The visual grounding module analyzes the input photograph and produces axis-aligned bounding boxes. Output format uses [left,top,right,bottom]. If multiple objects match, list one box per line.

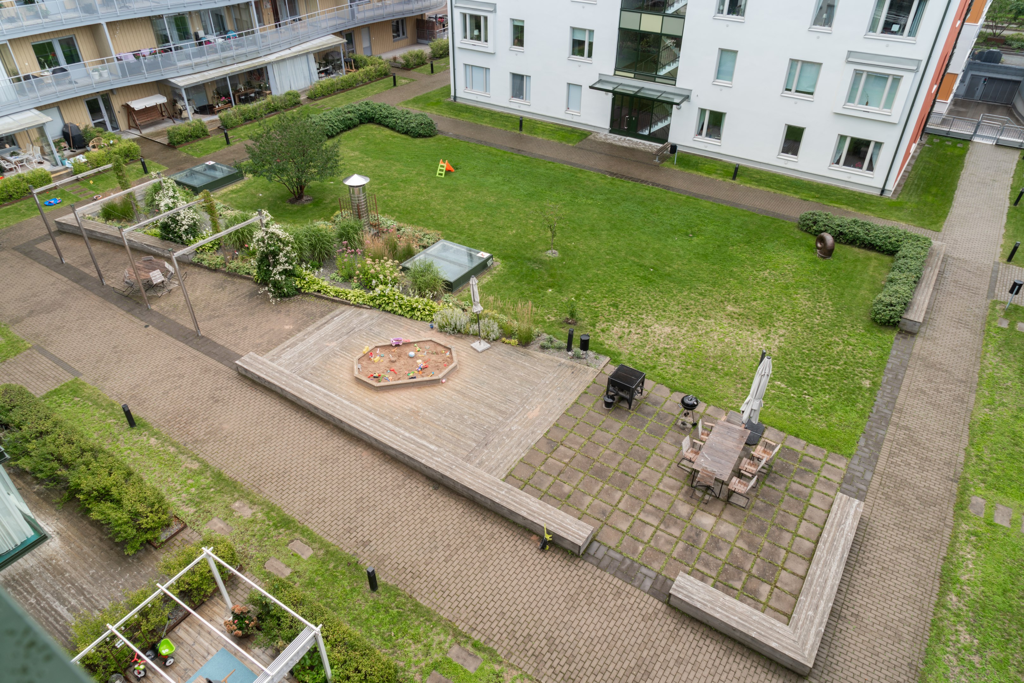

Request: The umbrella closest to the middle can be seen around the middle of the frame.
[471,276,490,351]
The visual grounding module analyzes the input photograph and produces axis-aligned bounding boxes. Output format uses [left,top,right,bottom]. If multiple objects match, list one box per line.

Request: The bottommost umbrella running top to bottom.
[736,345,774,445]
